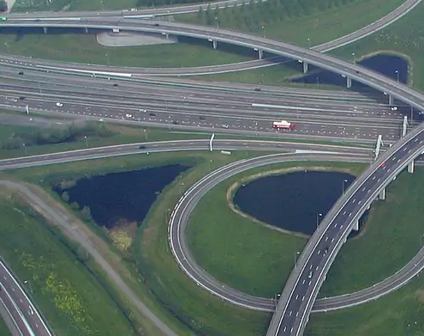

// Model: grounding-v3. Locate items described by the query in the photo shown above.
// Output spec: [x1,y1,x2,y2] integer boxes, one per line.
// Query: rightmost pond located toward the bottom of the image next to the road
[233,170,364,235]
